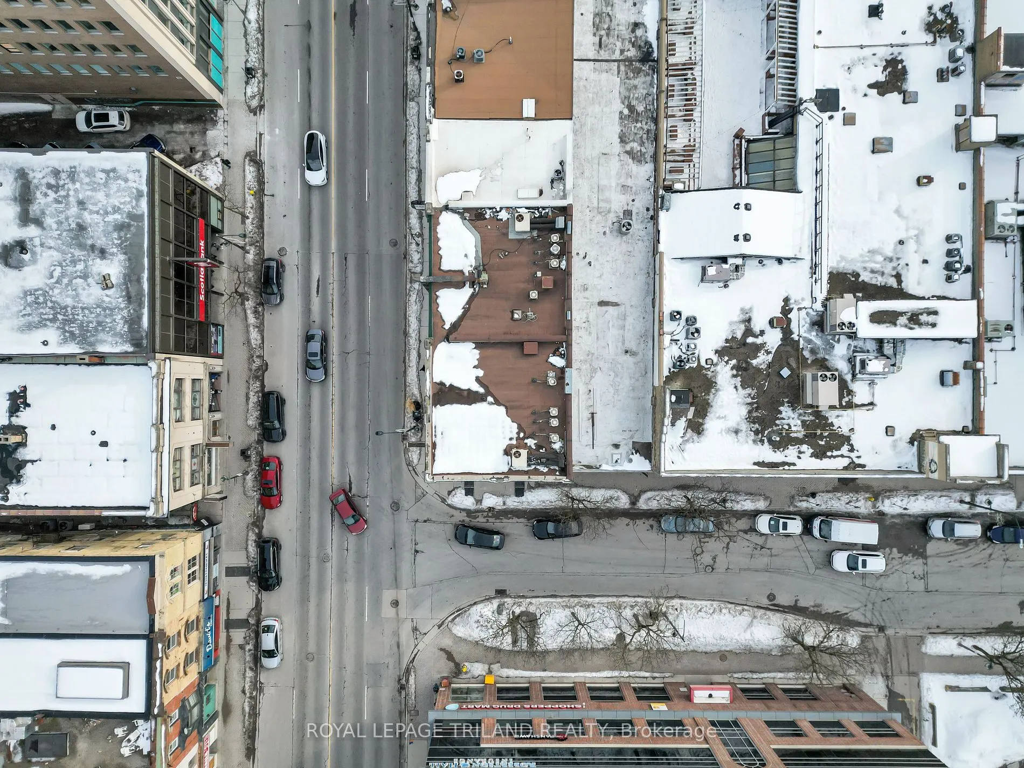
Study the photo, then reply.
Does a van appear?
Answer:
Yes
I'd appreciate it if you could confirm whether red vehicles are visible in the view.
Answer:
Yes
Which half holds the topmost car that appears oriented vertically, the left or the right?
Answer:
left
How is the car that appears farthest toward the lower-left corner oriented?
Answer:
vertically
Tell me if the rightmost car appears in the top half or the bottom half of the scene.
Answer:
bottom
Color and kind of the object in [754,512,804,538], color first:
white car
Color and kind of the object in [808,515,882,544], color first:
white van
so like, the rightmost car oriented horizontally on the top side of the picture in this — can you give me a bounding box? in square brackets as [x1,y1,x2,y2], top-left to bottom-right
[124,133,170,155]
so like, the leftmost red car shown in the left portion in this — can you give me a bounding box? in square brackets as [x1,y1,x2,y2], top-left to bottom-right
[258,457,285,509]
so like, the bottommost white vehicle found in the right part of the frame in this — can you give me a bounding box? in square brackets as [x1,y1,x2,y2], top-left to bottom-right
[828,548,886,575]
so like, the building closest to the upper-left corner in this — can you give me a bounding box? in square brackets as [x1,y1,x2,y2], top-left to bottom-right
[0,0,223,126]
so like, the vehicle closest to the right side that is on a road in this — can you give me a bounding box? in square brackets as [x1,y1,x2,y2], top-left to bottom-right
[985,522,1024,547]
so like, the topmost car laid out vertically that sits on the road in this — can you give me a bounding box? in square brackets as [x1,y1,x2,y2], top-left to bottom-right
[303,131,330,187]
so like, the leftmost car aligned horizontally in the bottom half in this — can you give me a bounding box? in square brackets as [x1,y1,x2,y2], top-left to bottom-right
[454,523,505,550]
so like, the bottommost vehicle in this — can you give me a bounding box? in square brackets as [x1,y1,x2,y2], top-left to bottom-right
[258,617,284,668]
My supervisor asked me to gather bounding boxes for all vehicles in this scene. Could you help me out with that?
[259,257,286,306]
[258,617,284,668]
[303,330,328,383]
[924,516,983,542]
[454,523,505,550]
[258,457,285,509]
[259,391,287,442]
[124,133,170,155]
[303,131,330,187]
[532,517,583,542]
[754,512,804,538]
[985,522,1024,547]
[660,512,715,536]
[828,548,886,575]
[77,107,133,135]
[255,537,283,591]
[808,515,882,544]
[330,485,367,537]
